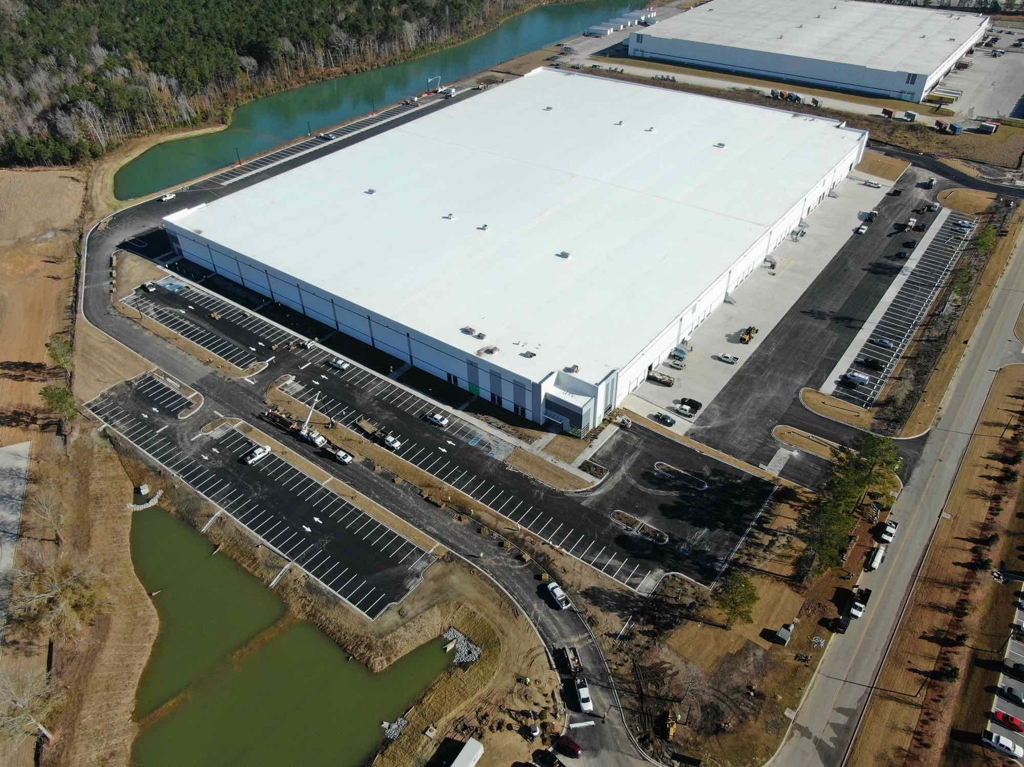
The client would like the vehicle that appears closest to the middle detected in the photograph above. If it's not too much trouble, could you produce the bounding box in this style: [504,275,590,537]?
[425,410,449,424]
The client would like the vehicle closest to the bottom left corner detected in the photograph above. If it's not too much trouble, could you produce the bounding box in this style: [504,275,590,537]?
[244,444,270,462]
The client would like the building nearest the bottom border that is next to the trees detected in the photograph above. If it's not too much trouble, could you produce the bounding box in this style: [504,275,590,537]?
[161,67,871,438]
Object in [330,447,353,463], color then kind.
white vehicle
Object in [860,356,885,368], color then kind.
black vehicle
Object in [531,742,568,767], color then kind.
black truck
